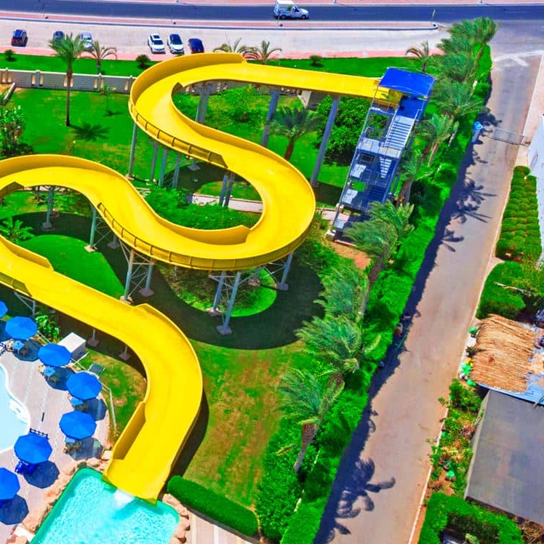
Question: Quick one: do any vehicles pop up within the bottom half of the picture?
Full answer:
No, the scene shows no vehicle within the bottom half of the picture.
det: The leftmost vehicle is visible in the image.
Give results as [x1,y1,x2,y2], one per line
[11,33,27,49]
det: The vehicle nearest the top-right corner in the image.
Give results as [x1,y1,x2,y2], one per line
[273,6,310,23]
